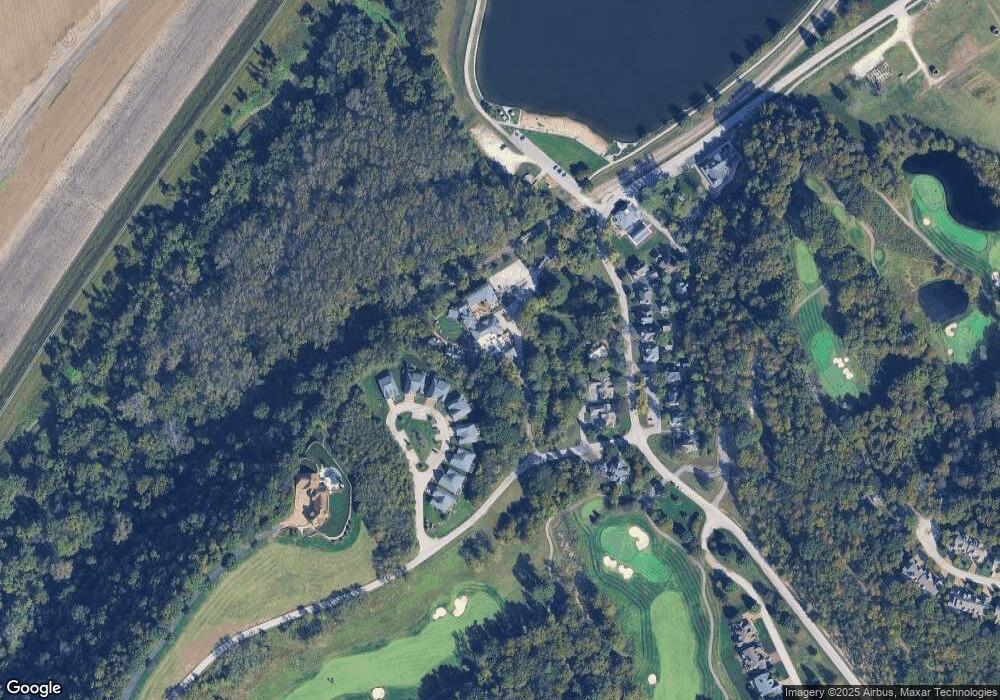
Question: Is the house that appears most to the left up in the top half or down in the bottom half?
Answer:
bottom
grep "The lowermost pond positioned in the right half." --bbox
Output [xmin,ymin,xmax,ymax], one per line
[919,279,969,322]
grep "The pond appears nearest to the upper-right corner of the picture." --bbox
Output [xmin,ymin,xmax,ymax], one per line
[901,149,1000,231]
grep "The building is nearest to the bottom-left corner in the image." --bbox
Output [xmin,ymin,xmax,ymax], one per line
[301,470,332,527]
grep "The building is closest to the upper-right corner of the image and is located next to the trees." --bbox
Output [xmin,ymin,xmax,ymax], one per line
[702,153,734,185]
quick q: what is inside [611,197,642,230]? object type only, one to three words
building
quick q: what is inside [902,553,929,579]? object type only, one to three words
building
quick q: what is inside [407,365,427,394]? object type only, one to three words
house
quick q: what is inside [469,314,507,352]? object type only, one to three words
house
